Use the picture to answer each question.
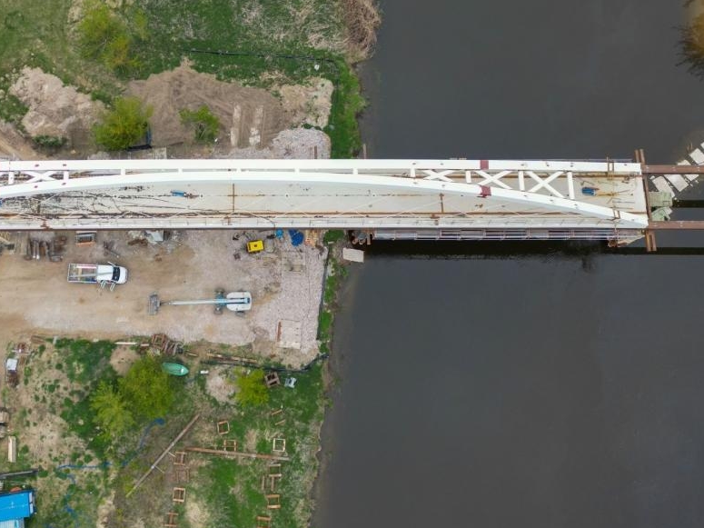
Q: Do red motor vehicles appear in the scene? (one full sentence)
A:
No, no red motor vehicle is visible in the view.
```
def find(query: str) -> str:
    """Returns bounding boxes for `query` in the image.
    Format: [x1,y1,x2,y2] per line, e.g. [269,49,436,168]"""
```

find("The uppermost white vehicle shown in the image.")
[67,261,129,292]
